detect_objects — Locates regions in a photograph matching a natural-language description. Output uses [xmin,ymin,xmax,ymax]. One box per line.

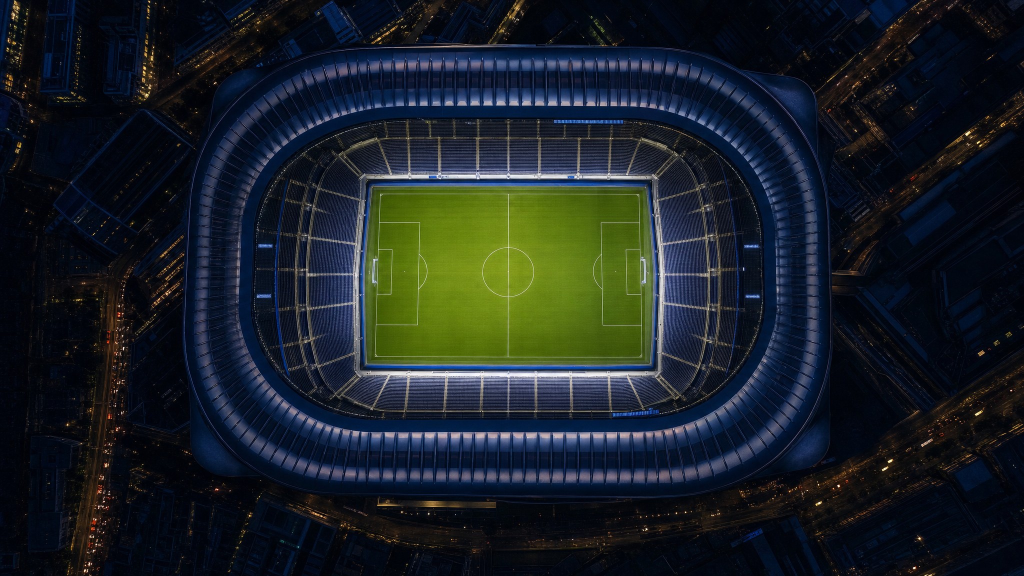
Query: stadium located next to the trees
[182,43,832,503]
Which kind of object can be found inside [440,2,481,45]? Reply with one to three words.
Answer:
building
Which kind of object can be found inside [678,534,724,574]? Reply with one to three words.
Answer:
house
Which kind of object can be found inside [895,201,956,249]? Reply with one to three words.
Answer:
shed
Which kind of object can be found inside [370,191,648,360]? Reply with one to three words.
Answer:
sports field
